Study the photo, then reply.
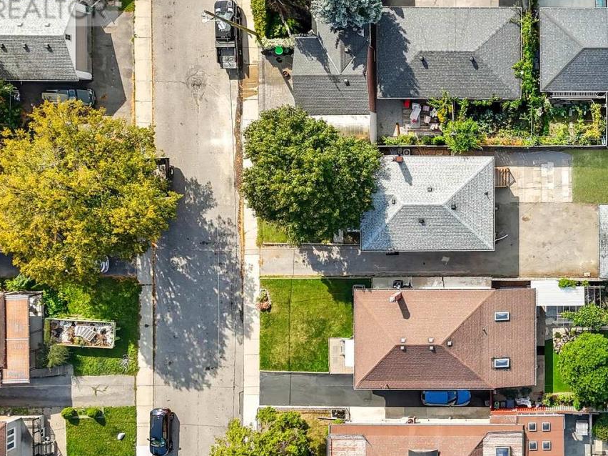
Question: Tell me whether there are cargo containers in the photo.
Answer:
No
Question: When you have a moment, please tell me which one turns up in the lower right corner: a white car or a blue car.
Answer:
blue car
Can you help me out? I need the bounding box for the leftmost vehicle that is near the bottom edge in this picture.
[148,405,175,456]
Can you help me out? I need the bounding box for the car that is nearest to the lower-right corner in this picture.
[422,390,472,412]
